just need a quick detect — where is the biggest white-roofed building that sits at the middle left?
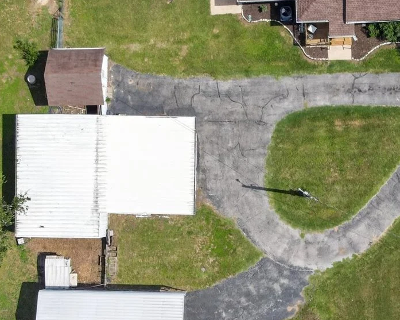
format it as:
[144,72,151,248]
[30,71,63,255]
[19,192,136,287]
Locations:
[15,114,198,238]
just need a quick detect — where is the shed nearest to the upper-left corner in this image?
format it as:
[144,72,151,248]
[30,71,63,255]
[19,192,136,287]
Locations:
[45,47,107,106]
